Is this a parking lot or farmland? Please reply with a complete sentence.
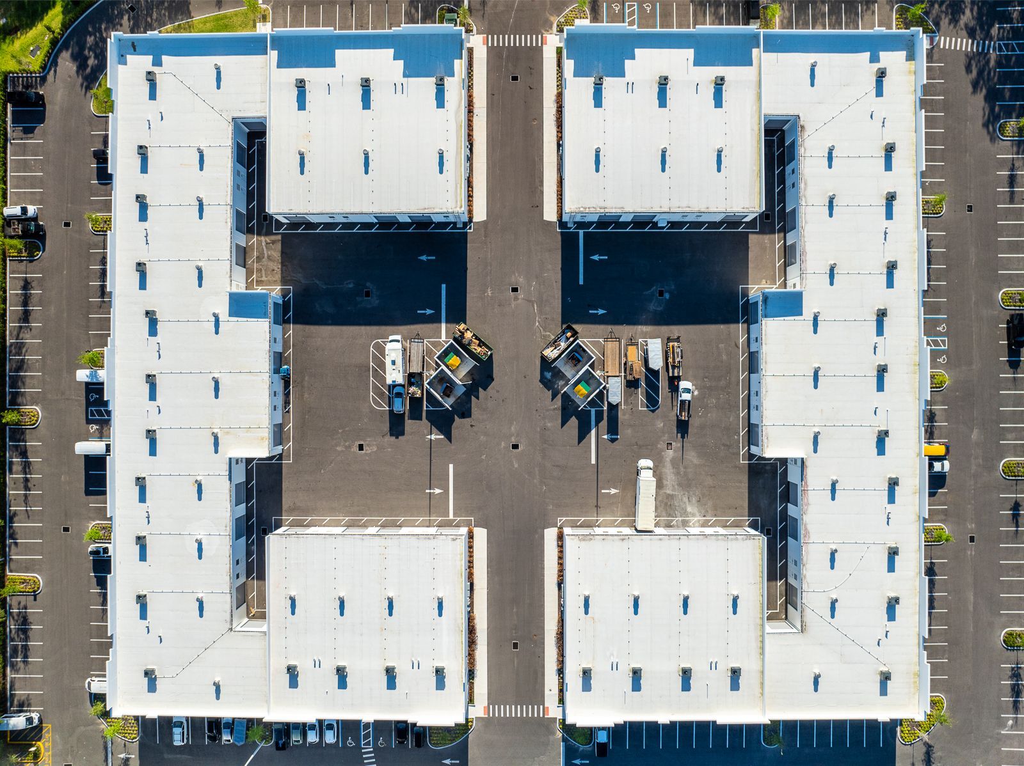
This image shows a parking lot.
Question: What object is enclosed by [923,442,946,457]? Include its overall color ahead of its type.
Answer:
yellow vehicle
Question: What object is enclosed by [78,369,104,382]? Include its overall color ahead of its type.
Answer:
white vehicle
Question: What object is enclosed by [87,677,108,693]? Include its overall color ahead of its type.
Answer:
white car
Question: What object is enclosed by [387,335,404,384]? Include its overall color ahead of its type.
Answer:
white camper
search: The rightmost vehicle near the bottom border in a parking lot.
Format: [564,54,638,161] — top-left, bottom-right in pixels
[595,726,610,758]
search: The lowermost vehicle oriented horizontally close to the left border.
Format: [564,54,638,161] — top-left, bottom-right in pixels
[0,711,46,732]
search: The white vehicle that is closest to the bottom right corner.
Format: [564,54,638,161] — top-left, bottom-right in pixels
[926,459,949,473]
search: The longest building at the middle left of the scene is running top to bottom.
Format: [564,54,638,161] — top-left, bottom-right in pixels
[104,31,285,718]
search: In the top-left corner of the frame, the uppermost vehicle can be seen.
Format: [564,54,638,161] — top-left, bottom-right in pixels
[2,88,46,106]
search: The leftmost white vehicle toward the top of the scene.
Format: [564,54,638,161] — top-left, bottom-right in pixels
[4,204,39,219]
